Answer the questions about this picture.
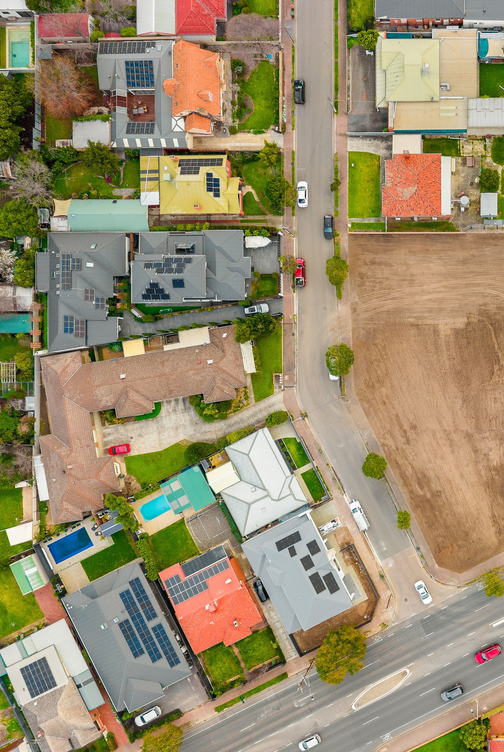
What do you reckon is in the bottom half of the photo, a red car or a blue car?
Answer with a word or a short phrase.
red car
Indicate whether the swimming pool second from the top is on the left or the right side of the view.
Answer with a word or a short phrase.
left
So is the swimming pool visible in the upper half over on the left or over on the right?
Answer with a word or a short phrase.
left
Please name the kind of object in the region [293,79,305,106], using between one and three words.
vehicle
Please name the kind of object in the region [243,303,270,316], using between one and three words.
vehicle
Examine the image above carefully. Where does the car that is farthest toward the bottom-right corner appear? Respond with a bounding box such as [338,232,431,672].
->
[440,682,466,702]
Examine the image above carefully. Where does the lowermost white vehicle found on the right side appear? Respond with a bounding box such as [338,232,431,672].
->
[298,732,321,750]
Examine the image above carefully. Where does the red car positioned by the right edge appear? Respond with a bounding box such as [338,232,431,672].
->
[477,644,500,661]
